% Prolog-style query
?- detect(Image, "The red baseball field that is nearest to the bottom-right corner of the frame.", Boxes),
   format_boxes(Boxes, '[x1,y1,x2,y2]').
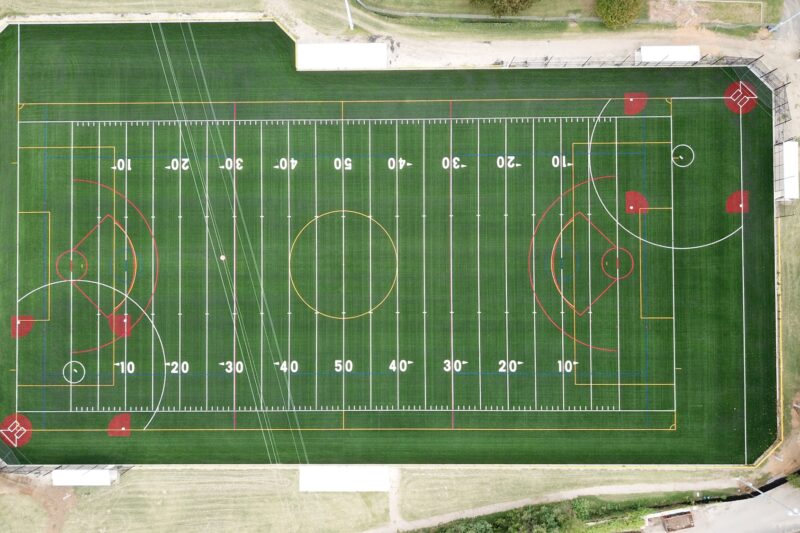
[589,80,759,463]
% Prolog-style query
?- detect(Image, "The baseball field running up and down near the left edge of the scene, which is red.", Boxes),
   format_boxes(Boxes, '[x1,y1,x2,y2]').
[0,25,166,448]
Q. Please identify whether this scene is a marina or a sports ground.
sports ground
